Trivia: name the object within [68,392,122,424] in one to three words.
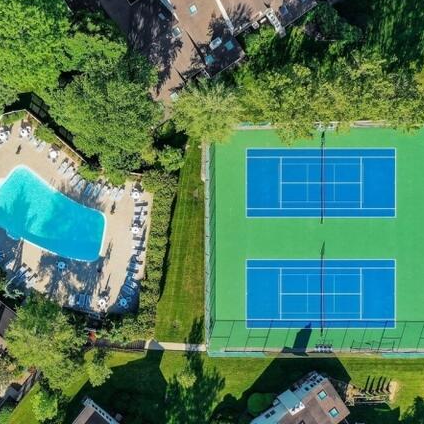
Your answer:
house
